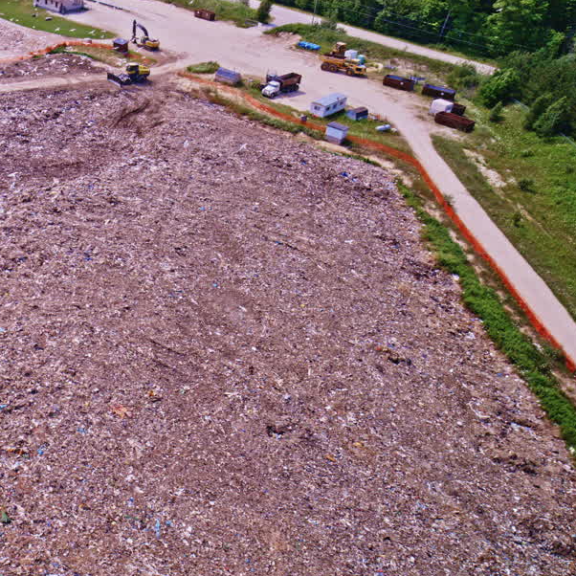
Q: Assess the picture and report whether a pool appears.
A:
No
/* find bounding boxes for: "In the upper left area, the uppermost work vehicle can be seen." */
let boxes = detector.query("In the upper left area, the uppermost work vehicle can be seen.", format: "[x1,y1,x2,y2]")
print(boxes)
[135,14,167,55]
